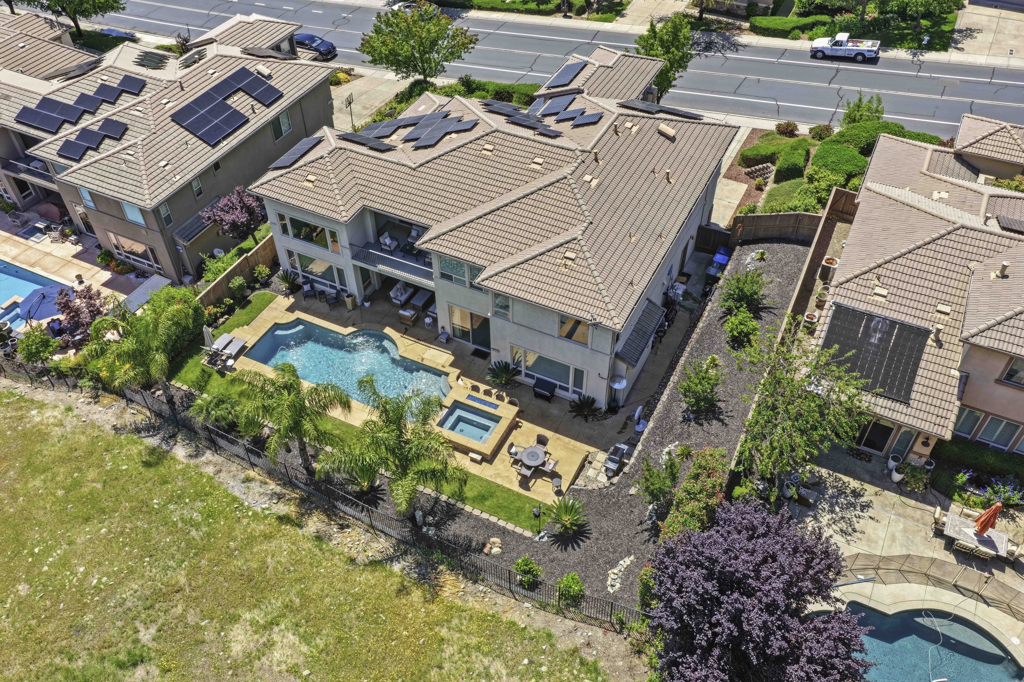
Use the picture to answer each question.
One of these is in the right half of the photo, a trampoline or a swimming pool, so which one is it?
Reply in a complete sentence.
You can see a swimming pool in the right half of the photo.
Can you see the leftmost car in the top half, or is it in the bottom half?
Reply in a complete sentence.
Seen from above, the leftmost car lies in the top half of the view.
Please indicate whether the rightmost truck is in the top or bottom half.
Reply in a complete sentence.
The top half of the photo is where the rightmost truck is.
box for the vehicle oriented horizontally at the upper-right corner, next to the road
[804,30,879,62]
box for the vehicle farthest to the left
[300,34,336,60]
